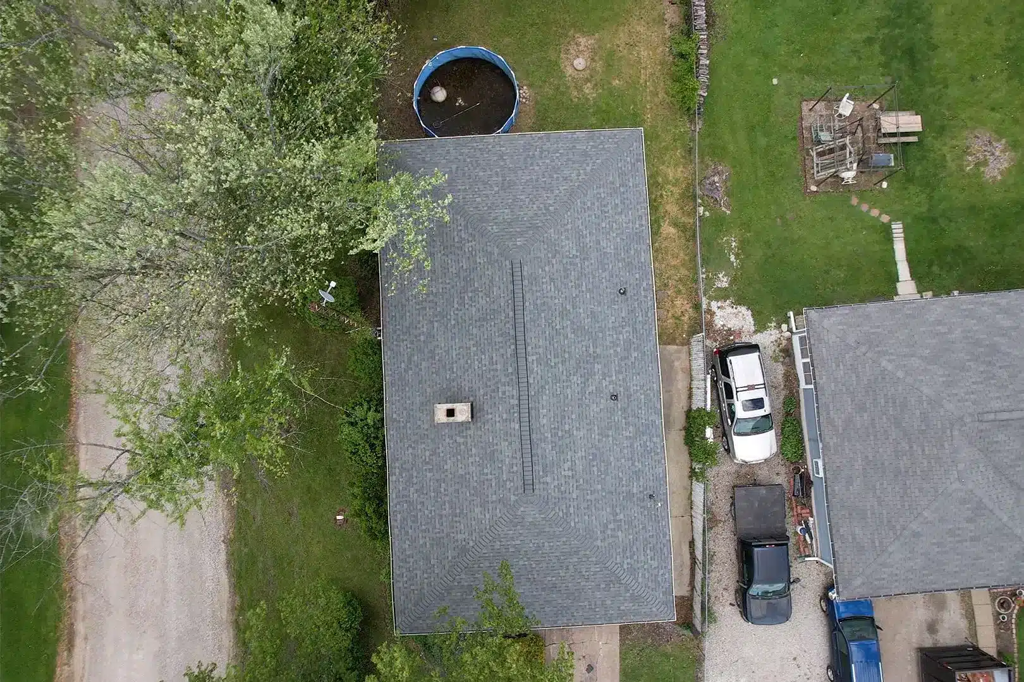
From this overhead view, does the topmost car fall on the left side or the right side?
right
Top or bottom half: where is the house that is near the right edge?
bottom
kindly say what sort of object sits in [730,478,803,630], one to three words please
truck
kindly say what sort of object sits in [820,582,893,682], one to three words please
car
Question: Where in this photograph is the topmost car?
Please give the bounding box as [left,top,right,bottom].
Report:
[712,346,778,469]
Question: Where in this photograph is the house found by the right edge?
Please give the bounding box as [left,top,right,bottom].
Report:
[782,288,1024,601]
